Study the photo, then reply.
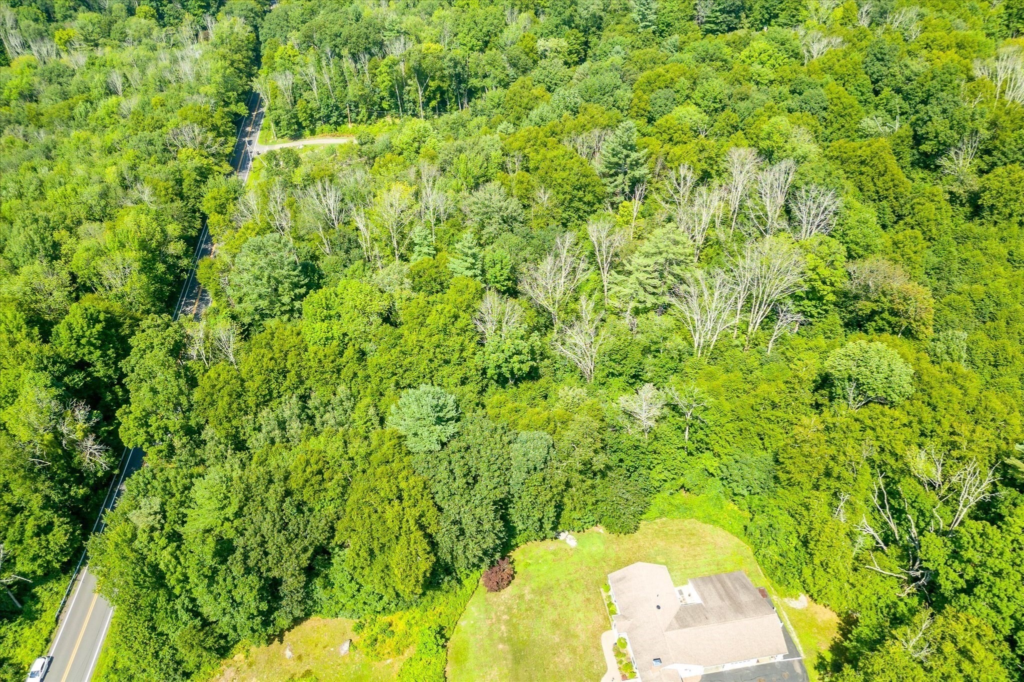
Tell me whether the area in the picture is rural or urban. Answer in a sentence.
The area is rural.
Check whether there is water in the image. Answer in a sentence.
No, no water is visible.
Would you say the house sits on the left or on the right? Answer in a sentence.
The house sits on the right side.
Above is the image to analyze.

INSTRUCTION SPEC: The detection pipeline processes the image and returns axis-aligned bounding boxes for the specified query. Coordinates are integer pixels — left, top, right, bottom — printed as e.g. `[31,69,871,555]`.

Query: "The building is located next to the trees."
[608,563,787,682]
